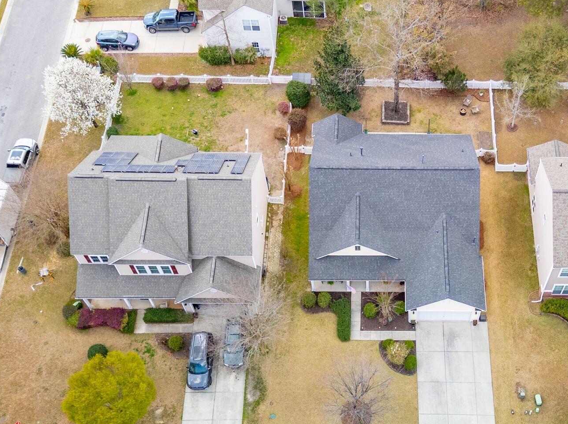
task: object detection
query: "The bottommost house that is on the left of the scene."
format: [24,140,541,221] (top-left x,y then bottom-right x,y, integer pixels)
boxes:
[67,132,266,314]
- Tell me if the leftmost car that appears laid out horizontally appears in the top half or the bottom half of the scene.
top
